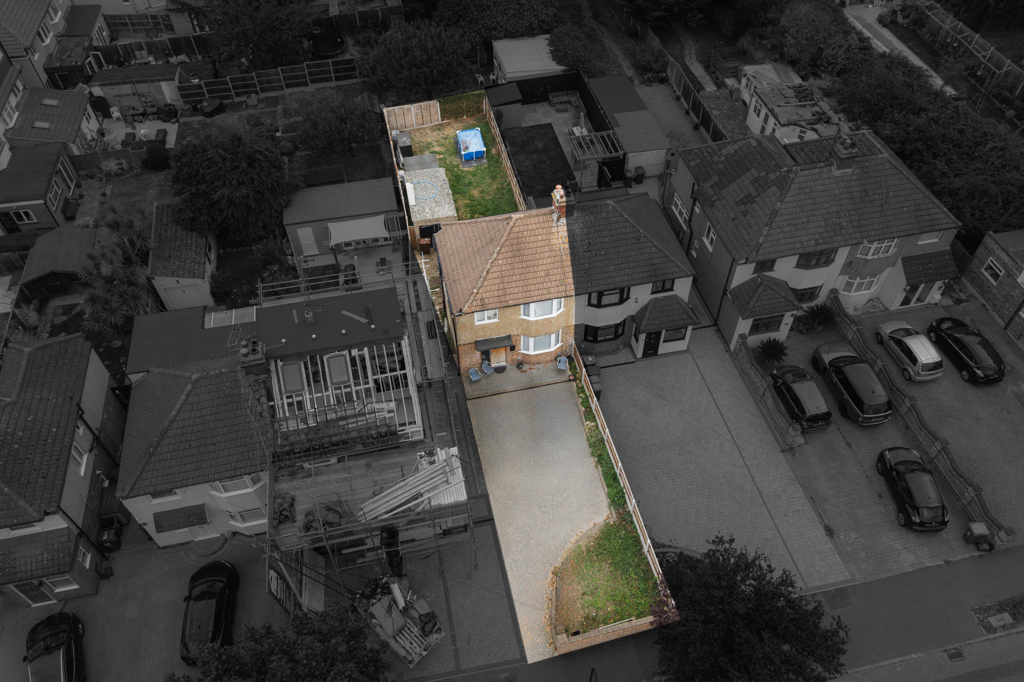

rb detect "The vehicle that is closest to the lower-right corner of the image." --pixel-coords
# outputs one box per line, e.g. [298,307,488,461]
[877,448,955,541]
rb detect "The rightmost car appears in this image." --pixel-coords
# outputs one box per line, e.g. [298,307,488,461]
[929,317,1011,391]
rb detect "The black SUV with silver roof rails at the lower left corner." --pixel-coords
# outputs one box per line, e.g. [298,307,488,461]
[17,613,84,682]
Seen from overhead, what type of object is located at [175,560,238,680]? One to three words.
car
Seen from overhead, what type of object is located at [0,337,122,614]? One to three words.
house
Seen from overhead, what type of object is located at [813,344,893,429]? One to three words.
car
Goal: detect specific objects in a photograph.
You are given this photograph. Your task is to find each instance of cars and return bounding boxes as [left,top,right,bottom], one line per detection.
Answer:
[175,560,238,680]
[17,613,84,682]
[772,354,836,428]
[929,317,1011,391]
[878,320,949,388]
[877,448,955,541]
[813,344,893,429]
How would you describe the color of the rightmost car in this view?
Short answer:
black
